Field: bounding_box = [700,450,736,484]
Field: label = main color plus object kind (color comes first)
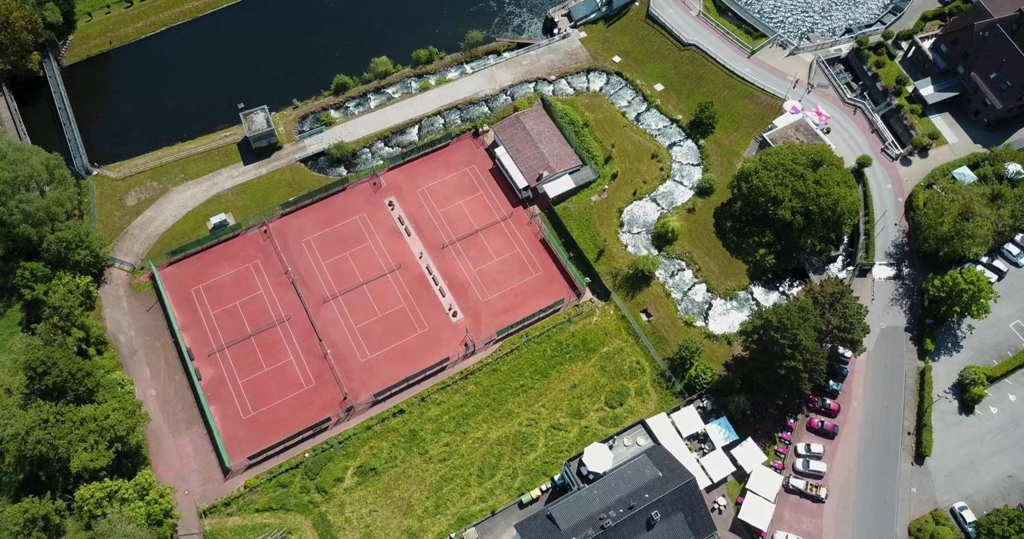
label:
white umbrella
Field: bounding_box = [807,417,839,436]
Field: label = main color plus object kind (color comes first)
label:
pink car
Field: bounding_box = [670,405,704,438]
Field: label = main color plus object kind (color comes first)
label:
white umbrella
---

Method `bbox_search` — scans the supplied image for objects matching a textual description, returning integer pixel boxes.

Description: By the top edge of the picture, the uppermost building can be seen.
[551,0,635,35]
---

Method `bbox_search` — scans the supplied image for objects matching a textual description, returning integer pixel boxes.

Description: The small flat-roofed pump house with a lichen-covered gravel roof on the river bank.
[240,105,280,151]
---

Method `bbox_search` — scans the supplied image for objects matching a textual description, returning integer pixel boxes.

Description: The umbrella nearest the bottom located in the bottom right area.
[737,495,774,533]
